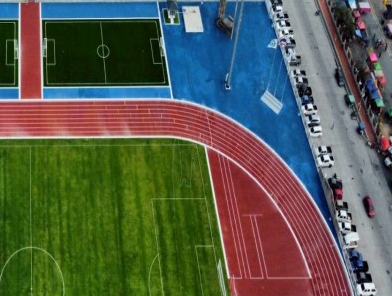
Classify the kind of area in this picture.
sports ground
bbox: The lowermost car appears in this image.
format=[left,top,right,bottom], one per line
[357,283,377,296]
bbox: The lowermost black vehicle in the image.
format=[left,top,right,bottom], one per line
[352,269,374,284]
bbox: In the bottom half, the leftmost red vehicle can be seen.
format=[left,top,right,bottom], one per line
[330,188,346,201]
